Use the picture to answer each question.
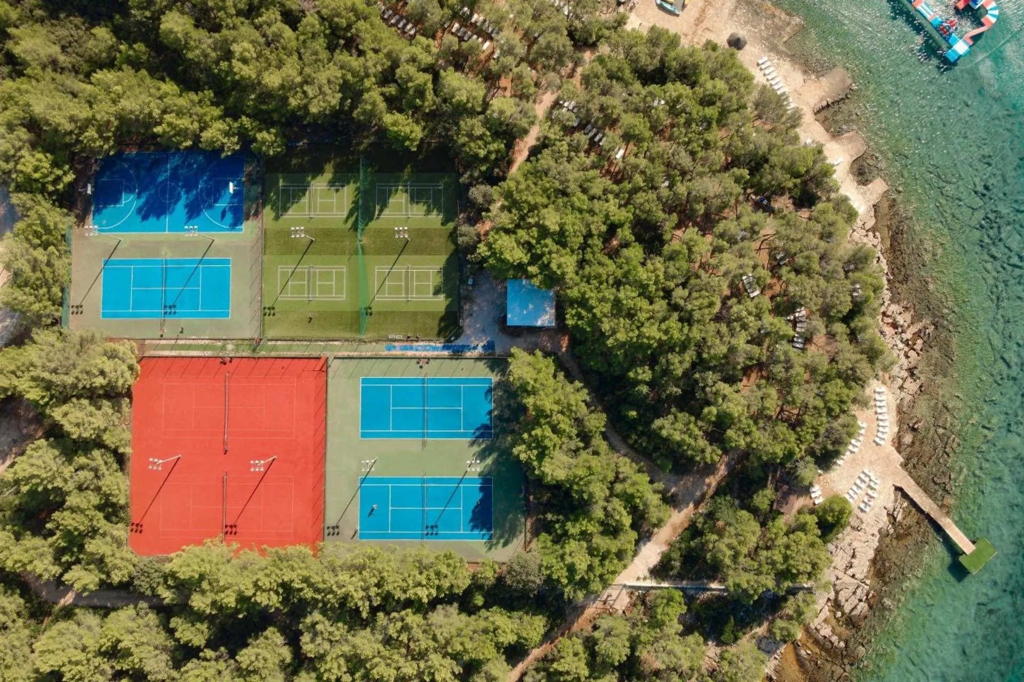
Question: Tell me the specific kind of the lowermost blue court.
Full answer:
The lowermost blue court can be classified as a tennis court.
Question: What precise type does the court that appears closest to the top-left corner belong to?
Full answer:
It looks like the court that appears closest to the top-left corner is a basketball court.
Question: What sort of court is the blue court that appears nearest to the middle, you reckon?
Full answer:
What you see as the blue court that appears nearest to the middle is a tennis court.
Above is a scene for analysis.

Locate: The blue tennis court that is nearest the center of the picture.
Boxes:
[360,378,493,439]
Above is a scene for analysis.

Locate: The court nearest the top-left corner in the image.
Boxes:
[92,151,245,233]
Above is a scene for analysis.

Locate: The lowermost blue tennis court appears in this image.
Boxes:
[359,477,493,540]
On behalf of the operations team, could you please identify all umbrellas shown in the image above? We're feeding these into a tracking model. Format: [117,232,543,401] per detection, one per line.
[726,32,746,52]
